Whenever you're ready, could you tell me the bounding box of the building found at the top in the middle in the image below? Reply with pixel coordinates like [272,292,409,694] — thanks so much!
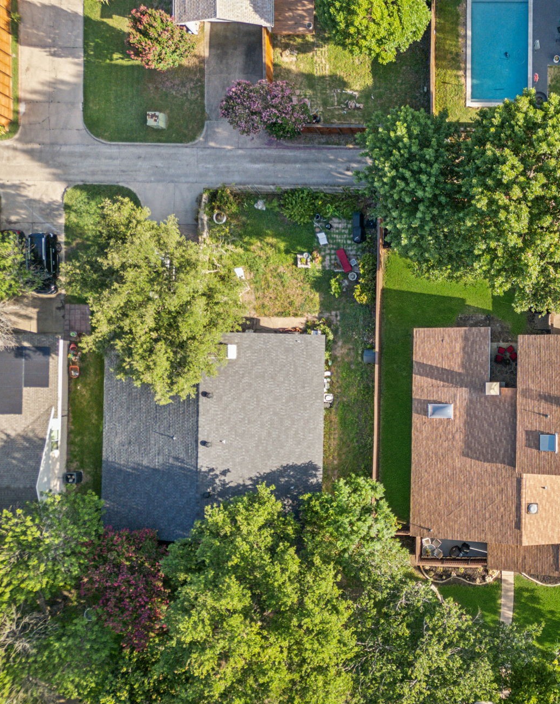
[173,0,281,47]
